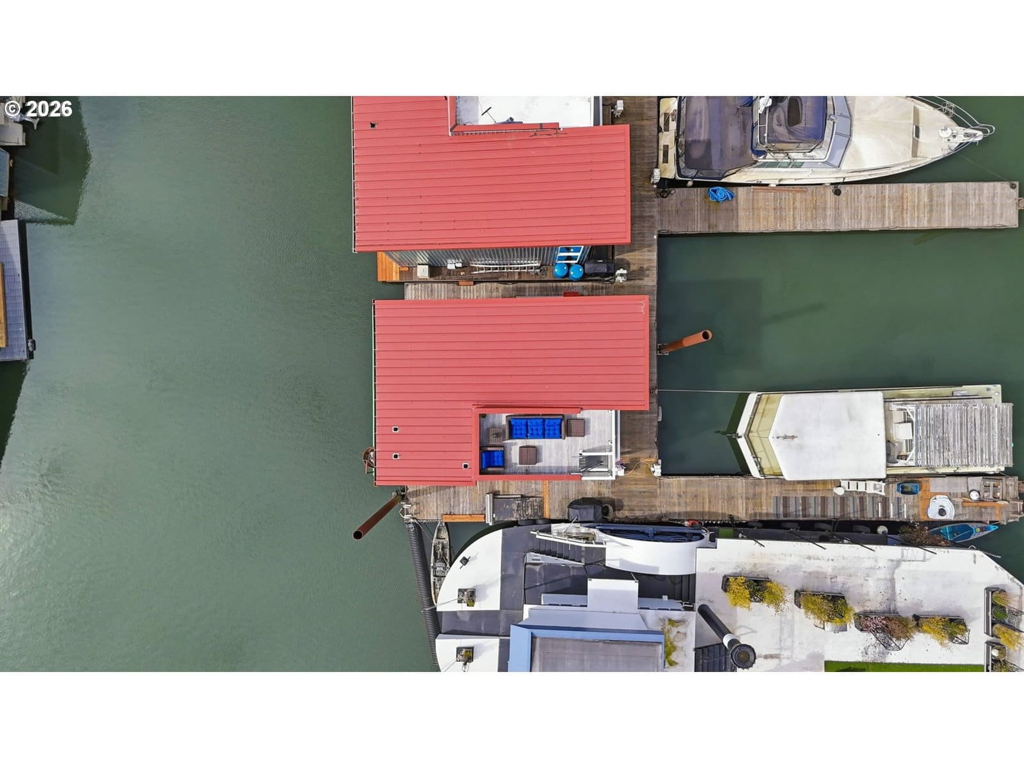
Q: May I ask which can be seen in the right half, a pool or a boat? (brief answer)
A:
boat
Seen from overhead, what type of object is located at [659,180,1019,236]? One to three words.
pier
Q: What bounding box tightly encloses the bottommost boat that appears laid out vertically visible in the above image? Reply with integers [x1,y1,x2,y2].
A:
[429,522,448,599]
